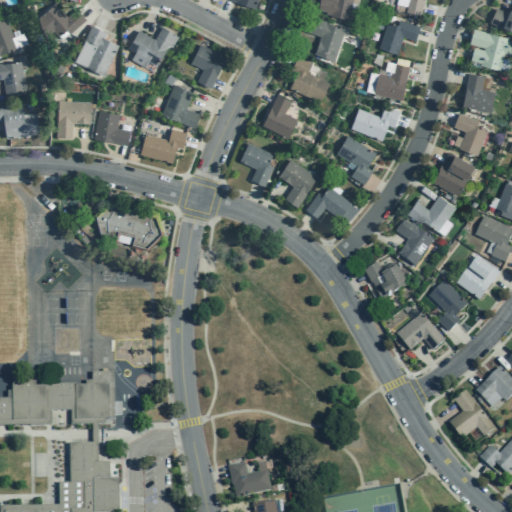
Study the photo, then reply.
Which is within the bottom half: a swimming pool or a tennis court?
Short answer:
tennis court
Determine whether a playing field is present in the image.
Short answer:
Yes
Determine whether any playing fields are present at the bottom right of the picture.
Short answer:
No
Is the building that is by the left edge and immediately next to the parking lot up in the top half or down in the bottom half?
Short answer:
bottom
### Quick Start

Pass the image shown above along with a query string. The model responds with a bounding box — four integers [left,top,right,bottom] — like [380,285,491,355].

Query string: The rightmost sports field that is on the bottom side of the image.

[96,286,152,339]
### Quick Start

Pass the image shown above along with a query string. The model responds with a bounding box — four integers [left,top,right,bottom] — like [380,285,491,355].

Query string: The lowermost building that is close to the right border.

[478,442,512,478]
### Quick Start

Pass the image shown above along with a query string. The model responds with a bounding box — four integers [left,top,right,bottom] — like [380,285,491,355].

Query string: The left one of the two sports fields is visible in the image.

[0,182,28,364]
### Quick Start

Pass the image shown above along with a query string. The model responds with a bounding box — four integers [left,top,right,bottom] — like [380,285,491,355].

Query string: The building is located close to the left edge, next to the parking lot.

[0,382,120,512]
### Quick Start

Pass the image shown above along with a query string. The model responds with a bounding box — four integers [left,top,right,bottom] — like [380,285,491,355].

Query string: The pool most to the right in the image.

[120,60,154,84]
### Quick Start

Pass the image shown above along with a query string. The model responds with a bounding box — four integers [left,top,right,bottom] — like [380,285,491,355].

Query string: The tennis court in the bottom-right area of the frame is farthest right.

[365,484,404,512]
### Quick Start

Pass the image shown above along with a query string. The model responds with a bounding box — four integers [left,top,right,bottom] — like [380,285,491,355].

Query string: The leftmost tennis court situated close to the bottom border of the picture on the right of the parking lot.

[325,490,368,512]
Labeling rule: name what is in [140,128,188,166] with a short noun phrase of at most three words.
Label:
house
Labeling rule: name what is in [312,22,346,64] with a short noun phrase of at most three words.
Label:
house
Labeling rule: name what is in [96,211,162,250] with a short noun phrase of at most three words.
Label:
building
